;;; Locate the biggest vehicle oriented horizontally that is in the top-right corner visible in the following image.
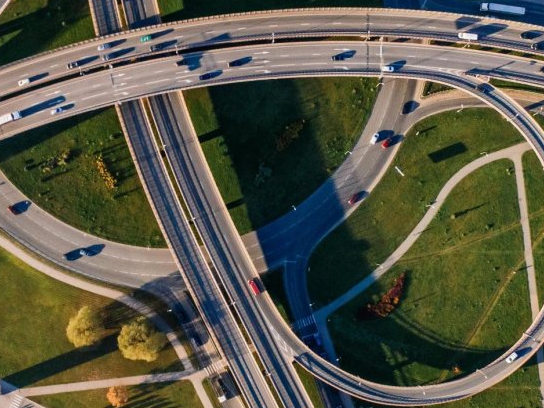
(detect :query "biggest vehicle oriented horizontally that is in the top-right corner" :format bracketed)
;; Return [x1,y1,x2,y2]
[478,2,526,15]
